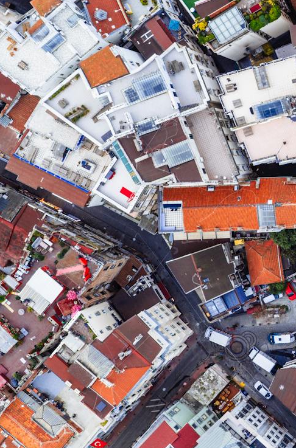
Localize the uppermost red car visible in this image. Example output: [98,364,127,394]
[284,282,296,304]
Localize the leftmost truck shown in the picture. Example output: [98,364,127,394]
[200,327,233,351]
